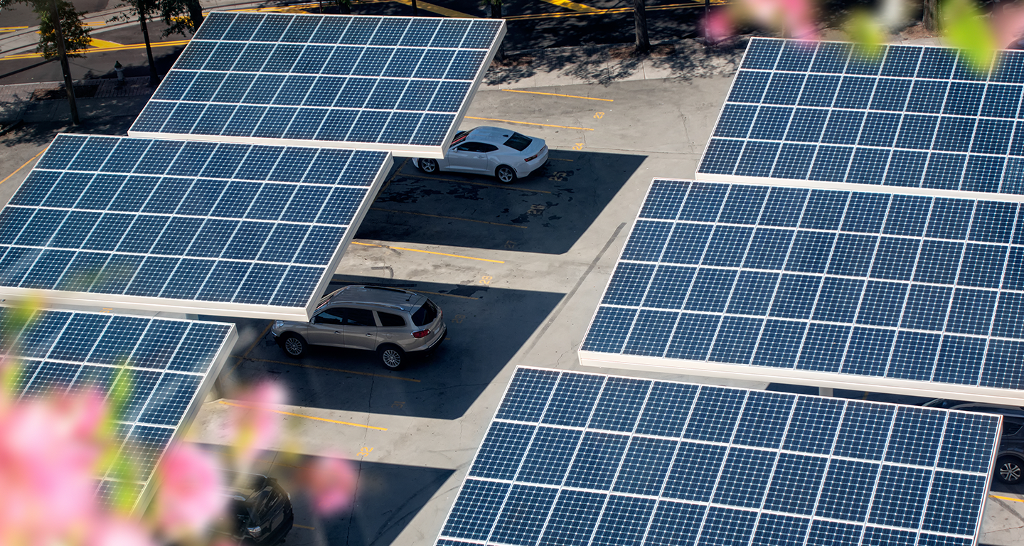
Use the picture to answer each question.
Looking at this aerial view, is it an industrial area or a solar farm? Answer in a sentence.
This image shows a solar farm.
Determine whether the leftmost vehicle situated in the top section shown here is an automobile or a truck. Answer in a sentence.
The leftmost vehicle situated in the top section appears to be an automobile.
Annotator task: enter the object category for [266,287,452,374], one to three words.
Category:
car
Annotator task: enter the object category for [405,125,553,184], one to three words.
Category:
car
